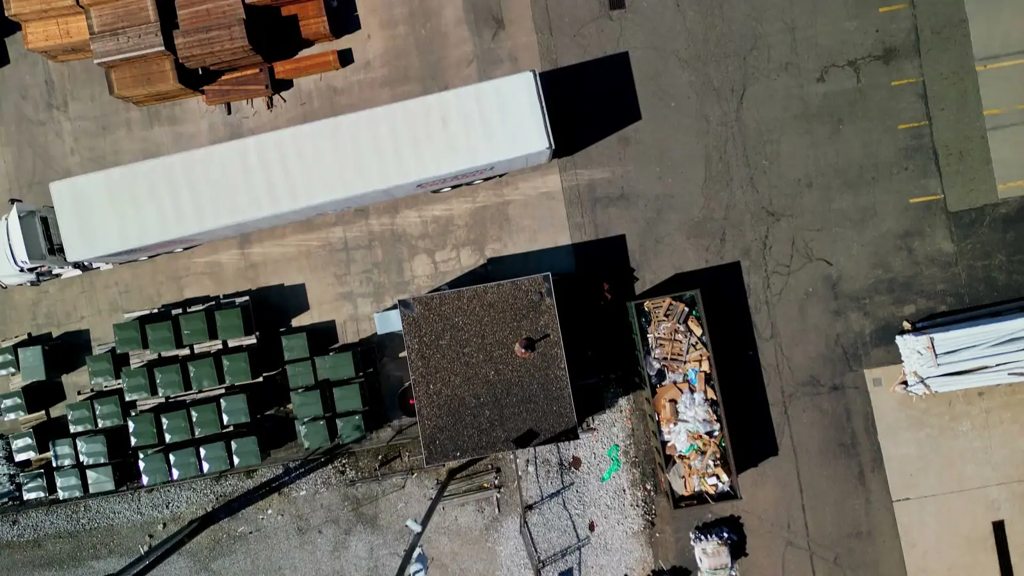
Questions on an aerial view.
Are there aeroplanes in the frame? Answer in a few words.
No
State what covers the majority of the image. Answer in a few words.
paved ground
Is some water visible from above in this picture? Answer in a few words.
No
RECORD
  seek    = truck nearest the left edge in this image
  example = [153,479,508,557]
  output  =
[0,196,192,291]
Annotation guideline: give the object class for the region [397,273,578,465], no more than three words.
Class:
building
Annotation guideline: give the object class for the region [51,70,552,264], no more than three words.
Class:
trailer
